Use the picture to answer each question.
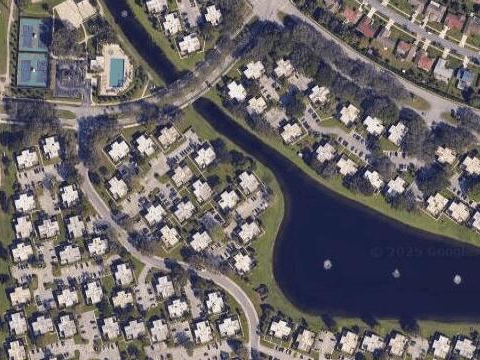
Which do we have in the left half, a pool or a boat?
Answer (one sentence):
Visible in the left half is a pool.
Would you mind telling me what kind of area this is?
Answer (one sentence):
It's a residential area.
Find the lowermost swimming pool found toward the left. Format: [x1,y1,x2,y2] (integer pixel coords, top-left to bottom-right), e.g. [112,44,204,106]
[100,45,133,95]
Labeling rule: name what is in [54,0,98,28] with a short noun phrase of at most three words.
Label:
building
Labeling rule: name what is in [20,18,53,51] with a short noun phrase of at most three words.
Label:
tennis court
